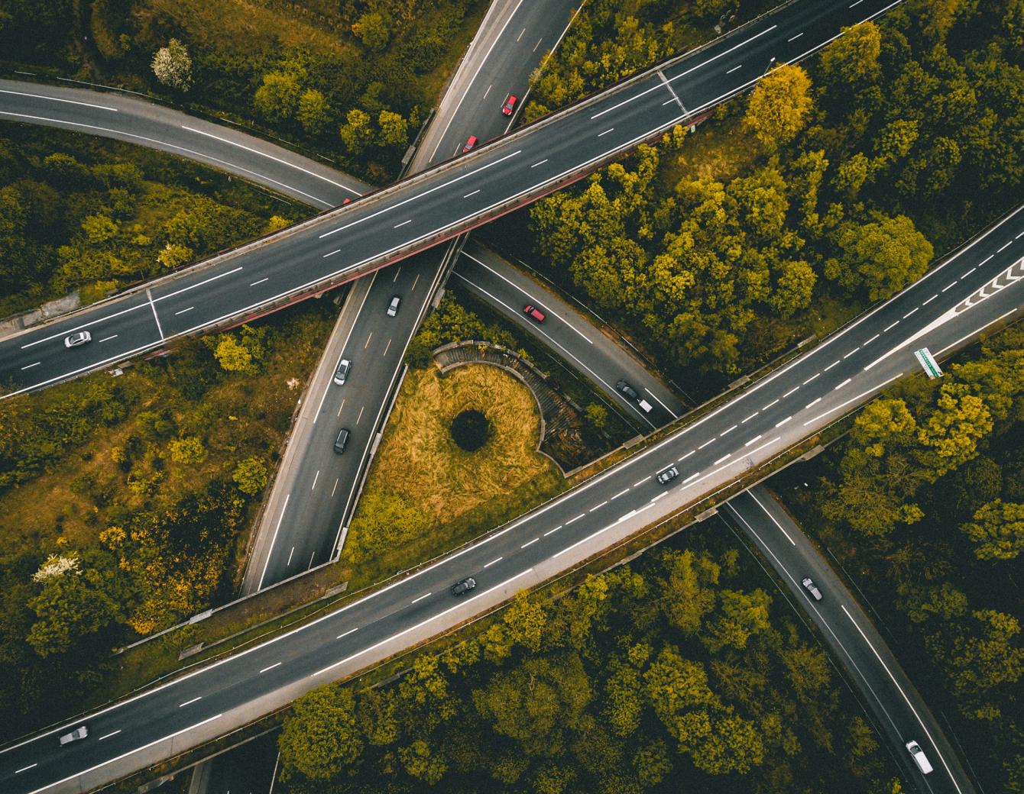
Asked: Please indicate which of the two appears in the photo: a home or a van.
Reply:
van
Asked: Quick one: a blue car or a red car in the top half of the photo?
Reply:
red car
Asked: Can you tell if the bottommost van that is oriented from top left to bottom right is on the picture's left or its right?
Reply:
right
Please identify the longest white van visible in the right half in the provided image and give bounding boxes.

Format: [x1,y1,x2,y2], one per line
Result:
[906,740,941,779]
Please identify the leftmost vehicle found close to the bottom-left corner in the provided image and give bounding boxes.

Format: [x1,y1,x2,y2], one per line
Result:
[56,726,87,748]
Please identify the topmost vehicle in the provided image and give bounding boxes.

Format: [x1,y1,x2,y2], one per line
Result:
[501,90,519,115]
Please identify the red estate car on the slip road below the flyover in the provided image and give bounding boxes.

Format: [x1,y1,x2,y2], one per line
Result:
[522,304,547,323]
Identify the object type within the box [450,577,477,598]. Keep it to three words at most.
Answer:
car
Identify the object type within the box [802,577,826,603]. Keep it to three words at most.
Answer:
car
